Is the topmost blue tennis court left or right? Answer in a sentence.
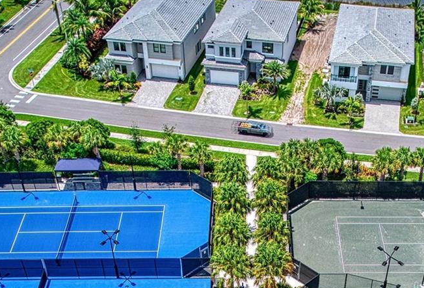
The topmost blue tennis court sits on the left side.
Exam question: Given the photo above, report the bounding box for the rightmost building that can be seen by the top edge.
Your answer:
[329,3,415,101]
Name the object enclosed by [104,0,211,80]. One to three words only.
house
